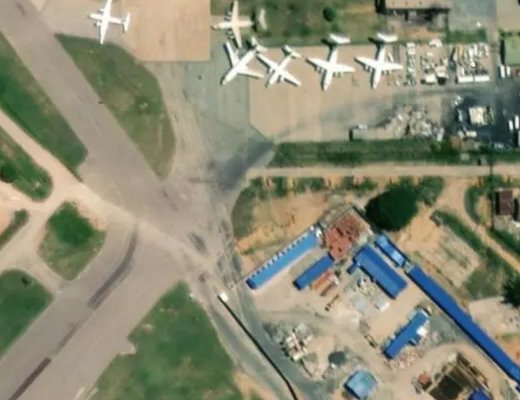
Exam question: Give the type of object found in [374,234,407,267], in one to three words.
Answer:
building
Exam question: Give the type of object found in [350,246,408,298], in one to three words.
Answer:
building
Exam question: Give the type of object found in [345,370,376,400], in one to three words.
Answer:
shed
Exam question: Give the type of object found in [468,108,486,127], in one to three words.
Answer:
shed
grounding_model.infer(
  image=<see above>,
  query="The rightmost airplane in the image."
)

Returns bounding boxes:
[356,27,405,88]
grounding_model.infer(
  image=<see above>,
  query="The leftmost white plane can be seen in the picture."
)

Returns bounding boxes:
[88,0,131,43]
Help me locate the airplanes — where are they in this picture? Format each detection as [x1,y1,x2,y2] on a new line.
[356,27,405,88]
[212,1,261,48]
[308,28,357,89]
[257,44,301,87]
[222,35,270,83]
[88,0,131,43]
